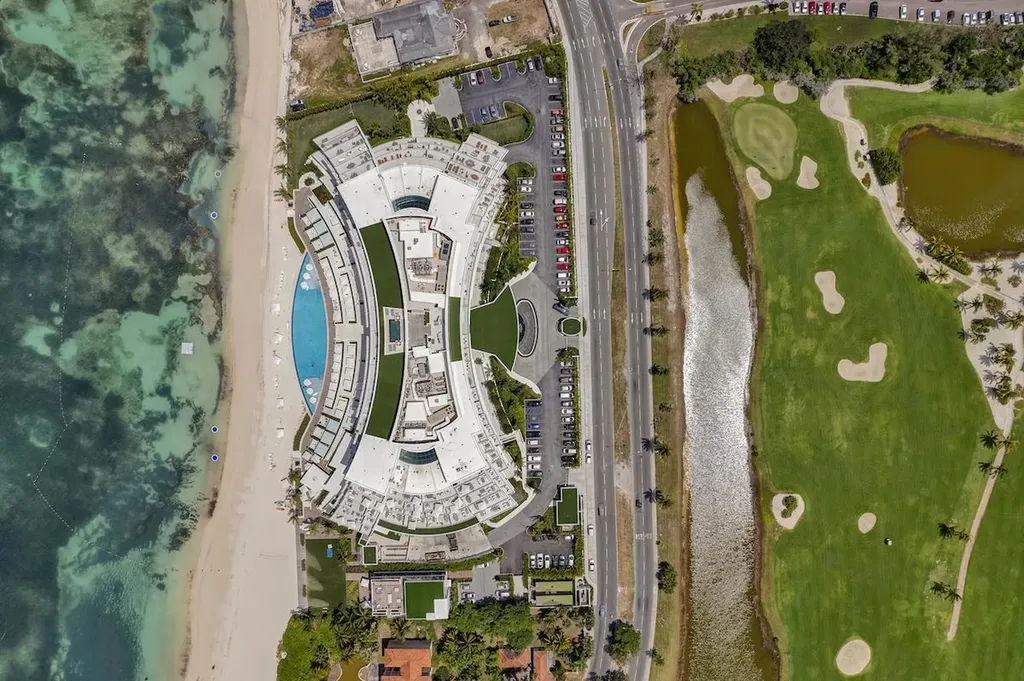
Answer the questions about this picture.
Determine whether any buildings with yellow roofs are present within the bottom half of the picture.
Yes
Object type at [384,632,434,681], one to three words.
house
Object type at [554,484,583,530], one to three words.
building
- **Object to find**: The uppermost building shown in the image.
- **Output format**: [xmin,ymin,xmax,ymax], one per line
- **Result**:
[348,0,467,84]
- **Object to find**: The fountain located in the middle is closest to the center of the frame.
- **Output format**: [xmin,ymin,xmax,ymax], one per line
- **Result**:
[517,297,539,358]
